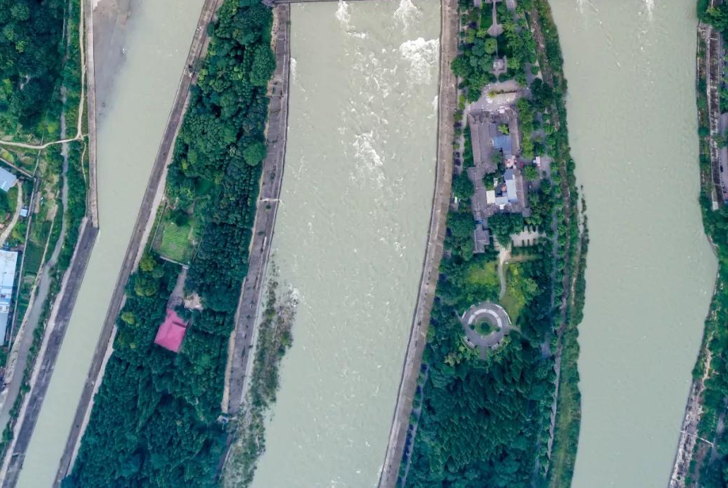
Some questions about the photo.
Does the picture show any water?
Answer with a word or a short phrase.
Yes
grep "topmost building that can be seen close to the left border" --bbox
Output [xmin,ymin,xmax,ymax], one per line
[0,163,19,193]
